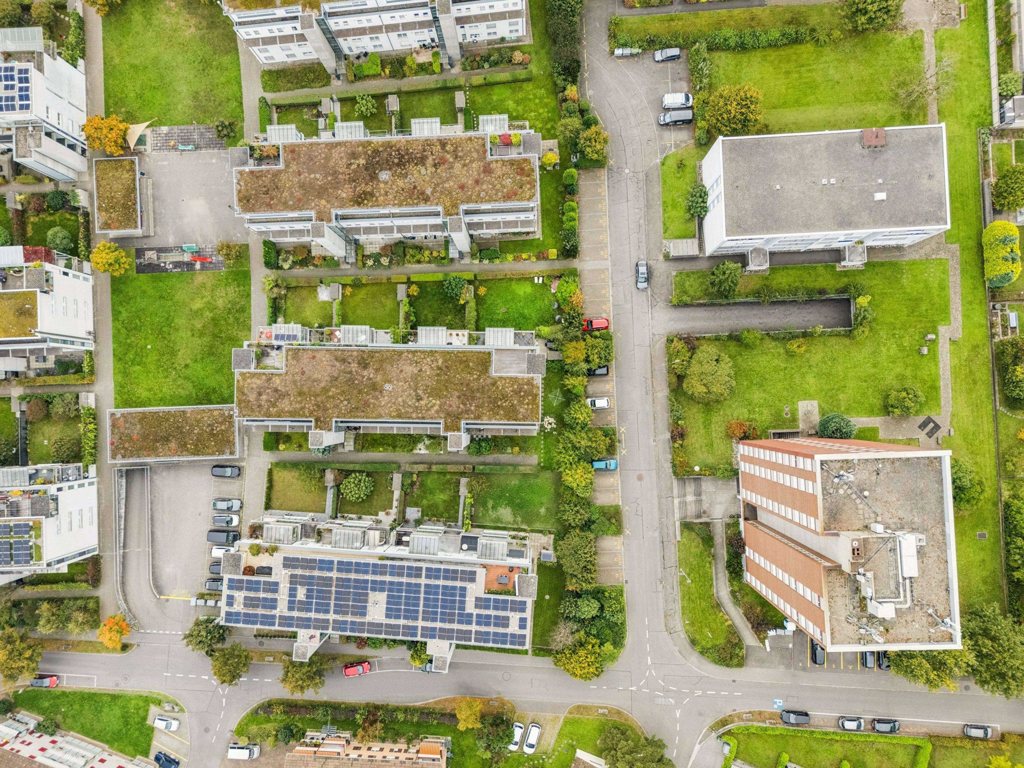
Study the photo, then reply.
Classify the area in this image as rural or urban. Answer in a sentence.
This place is urban.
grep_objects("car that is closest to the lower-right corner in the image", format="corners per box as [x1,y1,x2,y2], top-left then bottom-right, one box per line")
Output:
[963,723,992,739]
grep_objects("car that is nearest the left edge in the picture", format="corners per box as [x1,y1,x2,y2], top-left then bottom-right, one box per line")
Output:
[30,674,61,690]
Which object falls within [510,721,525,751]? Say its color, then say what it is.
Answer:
white car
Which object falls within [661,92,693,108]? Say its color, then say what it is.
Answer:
white vehicle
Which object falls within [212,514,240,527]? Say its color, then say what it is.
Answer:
white vehicle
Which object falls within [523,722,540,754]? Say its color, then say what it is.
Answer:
white car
